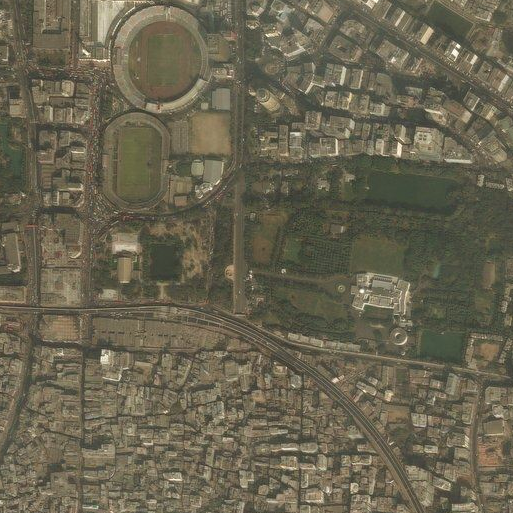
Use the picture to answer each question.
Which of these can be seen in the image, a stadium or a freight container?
stadium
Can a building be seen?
Yes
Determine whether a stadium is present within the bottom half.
No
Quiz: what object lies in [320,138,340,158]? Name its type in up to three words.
building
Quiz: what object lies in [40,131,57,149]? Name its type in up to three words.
building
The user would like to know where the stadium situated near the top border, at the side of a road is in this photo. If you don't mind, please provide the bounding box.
[115,8,209,113]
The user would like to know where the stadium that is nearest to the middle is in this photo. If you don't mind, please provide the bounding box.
[102,112,169,211]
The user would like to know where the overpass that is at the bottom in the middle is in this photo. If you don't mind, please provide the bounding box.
[0,303,427,513]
